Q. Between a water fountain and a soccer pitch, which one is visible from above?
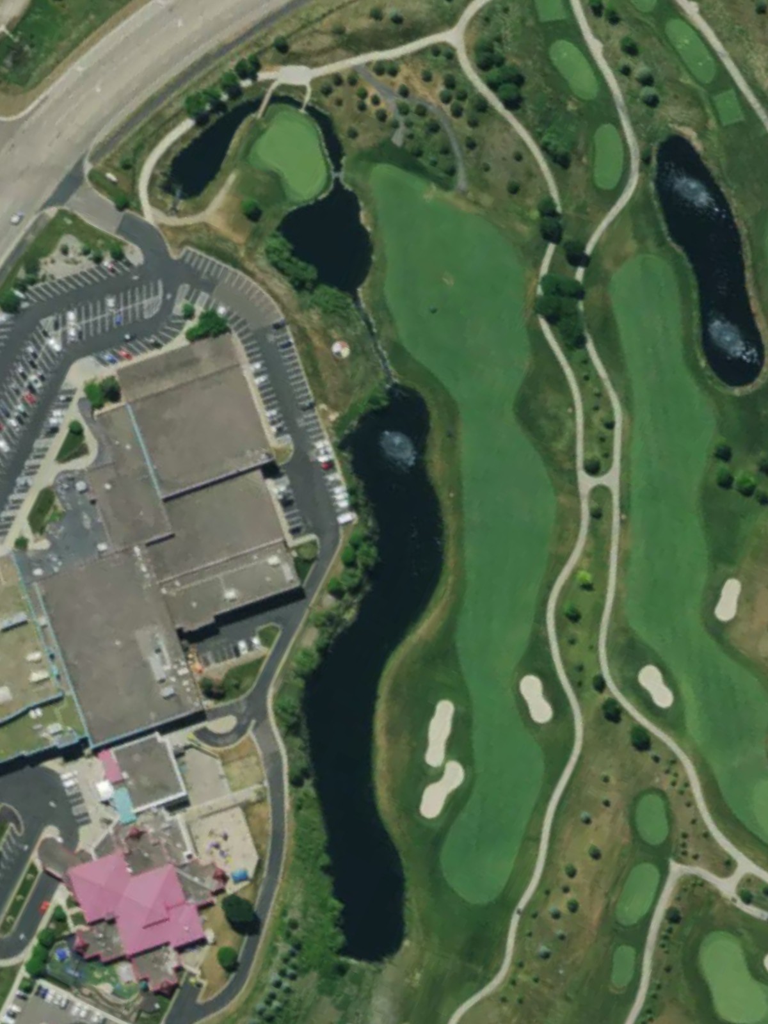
water fountain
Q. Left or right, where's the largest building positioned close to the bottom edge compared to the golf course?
to the left of it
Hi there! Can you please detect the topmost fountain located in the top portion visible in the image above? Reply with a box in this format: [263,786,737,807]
[683,179,719,217]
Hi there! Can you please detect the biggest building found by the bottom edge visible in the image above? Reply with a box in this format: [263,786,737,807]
[37,812,226,994]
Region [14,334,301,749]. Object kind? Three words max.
building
